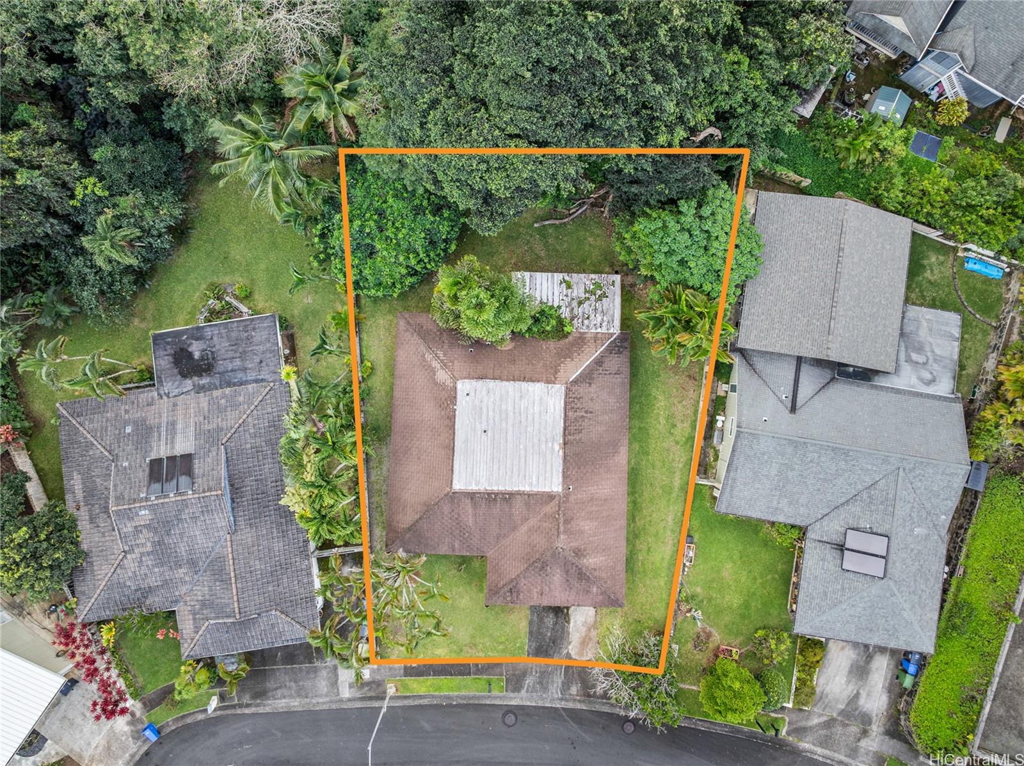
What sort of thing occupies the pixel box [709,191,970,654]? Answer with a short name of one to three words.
house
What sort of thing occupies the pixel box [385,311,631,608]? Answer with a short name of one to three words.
house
